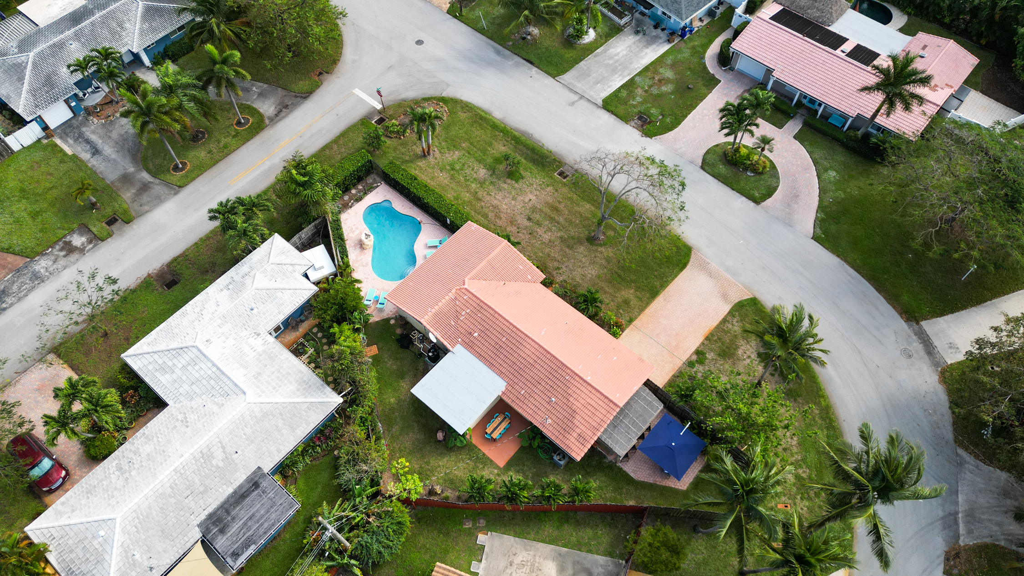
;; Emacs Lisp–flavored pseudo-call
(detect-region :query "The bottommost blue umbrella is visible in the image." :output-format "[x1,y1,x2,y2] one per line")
[638,413,705,481]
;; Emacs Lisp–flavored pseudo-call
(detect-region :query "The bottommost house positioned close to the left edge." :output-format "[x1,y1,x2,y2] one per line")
[21,232,344,576]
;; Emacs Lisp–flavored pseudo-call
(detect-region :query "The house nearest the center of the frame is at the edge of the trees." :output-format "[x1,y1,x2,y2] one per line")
[386,222,658,463]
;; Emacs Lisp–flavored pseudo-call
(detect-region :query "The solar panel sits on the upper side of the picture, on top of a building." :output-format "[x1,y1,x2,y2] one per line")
[763,8,904,74]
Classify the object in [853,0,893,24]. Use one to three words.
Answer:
swimming pool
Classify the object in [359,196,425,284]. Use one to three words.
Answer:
swimming pool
